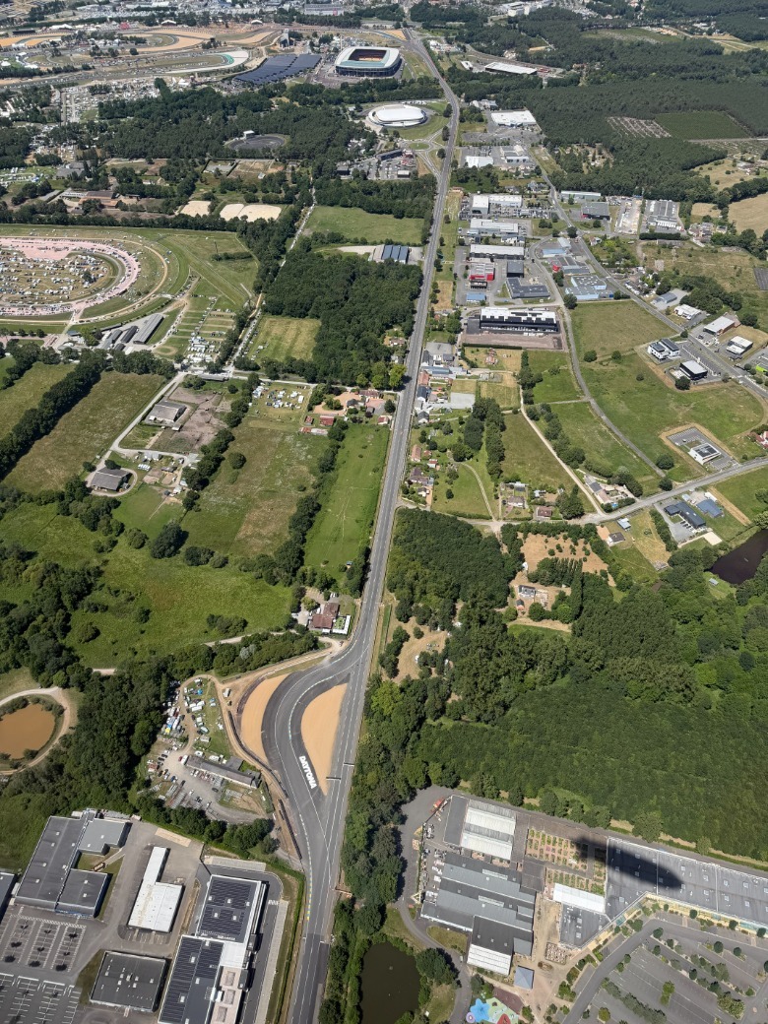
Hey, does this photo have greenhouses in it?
Yes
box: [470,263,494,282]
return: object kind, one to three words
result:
building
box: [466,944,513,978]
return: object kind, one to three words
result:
greenhouse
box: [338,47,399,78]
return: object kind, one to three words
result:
stadium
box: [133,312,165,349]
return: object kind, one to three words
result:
barn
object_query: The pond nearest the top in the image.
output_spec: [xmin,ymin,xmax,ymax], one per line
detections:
[708,527,768,585]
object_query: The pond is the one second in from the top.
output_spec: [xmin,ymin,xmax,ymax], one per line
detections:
[0,700,55,759]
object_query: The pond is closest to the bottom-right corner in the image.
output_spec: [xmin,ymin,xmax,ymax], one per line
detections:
[359,943,418,1024]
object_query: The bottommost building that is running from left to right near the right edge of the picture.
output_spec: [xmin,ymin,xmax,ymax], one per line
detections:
[603,835,768,934]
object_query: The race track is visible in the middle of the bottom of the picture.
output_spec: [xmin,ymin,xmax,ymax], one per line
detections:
[276,643,356,868]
